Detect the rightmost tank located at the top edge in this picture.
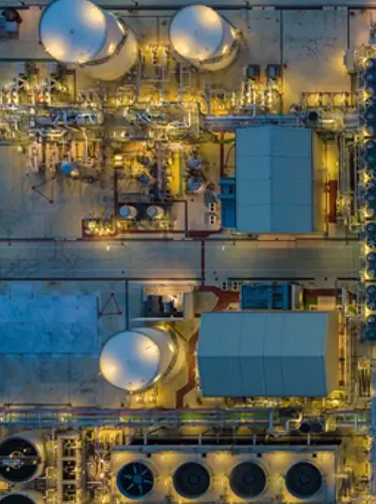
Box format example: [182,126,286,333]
[167,0,244,73]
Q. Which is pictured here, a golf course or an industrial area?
industrial area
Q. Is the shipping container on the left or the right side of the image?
right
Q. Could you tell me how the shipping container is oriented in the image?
horizontally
